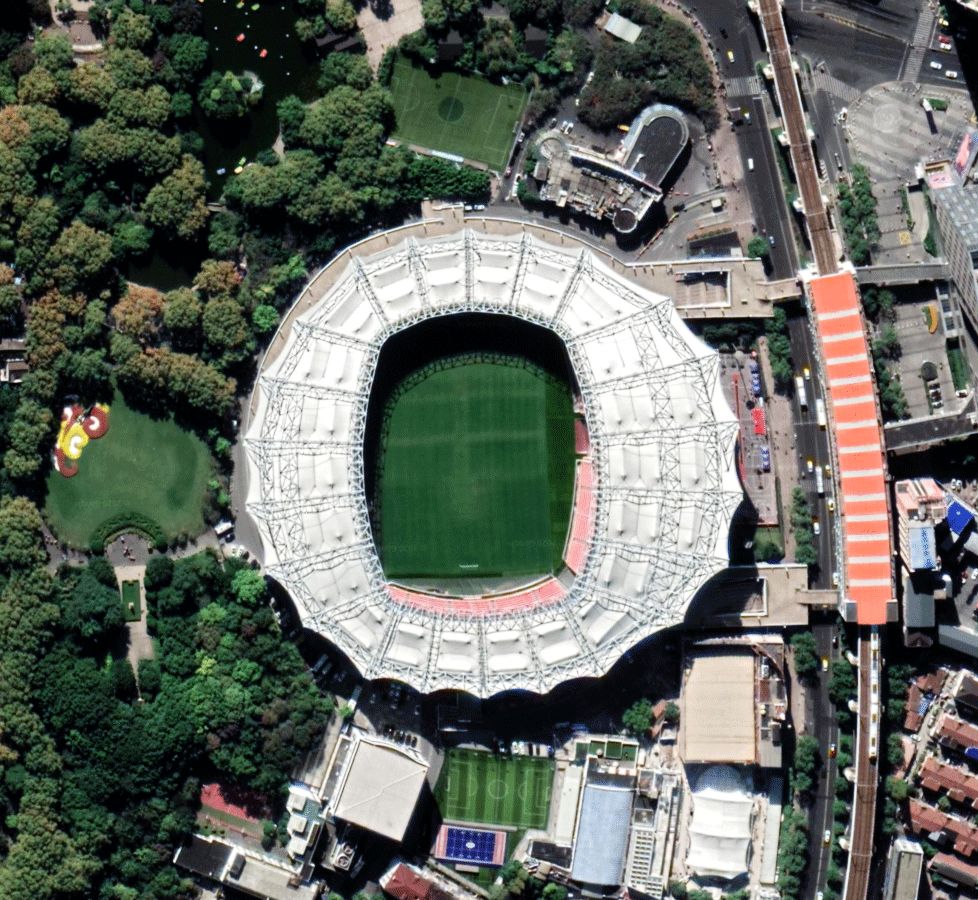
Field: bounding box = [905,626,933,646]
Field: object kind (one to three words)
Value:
house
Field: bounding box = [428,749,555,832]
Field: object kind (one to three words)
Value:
soccer field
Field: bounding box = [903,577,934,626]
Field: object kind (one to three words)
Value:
shed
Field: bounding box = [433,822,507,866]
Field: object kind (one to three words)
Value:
sports court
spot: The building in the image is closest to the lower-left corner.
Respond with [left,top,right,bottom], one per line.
[171,833,238,880]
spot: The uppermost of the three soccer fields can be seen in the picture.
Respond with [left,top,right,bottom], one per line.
[385,54,529,171]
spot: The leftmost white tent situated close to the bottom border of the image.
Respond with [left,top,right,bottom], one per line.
[684,786,753,877]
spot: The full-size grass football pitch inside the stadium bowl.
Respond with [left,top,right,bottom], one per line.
[366,335,577,578]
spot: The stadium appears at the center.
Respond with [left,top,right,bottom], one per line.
[244,228,743,698]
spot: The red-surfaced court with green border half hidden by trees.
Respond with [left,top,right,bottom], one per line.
[198,782,280,841]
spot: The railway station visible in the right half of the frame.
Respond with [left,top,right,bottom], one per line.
[797,257,898,624]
